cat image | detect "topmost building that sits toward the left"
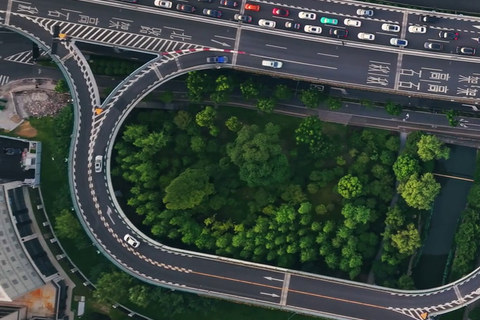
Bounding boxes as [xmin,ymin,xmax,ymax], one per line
[0,134,51,187]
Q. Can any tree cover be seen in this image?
Yes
